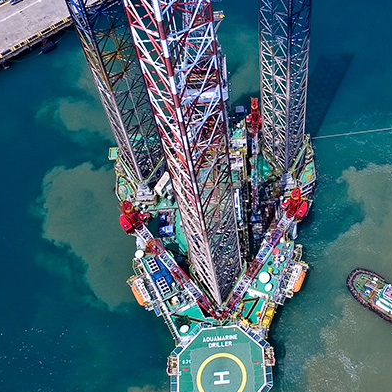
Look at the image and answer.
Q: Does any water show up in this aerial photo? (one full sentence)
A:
Yes, there is water in the image.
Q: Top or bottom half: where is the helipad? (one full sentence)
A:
The helipad sits in the bottom half of the picture.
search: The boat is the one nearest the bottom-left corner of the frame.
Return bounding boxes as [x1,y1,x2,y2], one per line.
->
[130,283,148,314]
